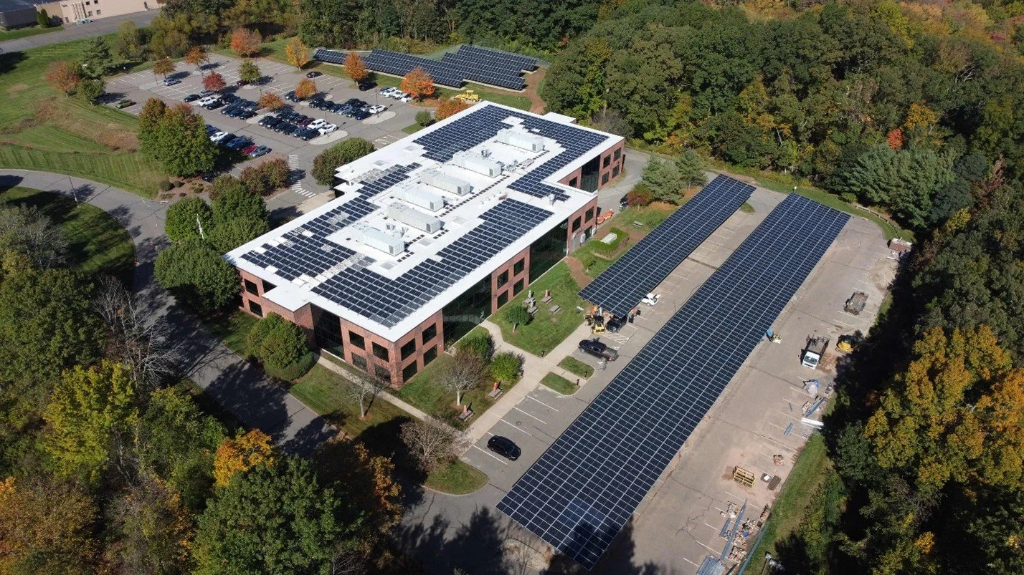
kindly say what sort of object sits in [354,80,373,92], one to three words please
vehicle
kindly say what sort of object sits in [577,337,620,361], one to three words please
car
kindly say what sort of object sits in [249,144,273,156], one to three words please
vehicle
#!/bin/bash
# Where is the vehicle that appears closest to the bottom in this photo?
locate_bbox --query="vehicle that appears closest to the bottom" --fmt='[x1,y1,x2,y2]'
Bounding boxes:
[484,433,525,461]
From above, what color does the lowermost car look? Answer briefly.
black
